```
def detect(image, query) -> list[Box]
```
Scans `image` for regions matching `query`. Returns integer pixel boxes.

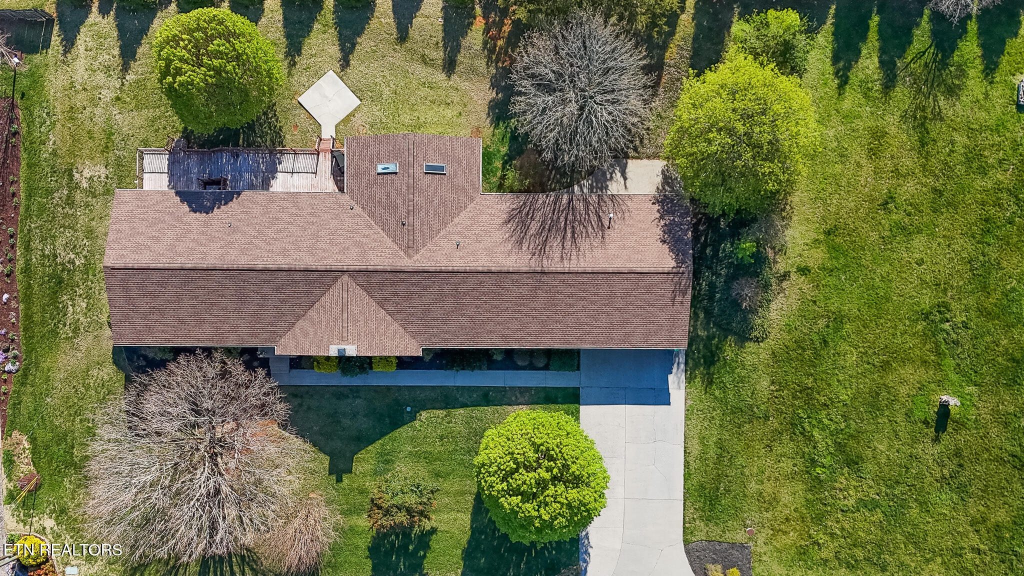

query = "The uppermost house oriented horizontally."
[101,132,692,357]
